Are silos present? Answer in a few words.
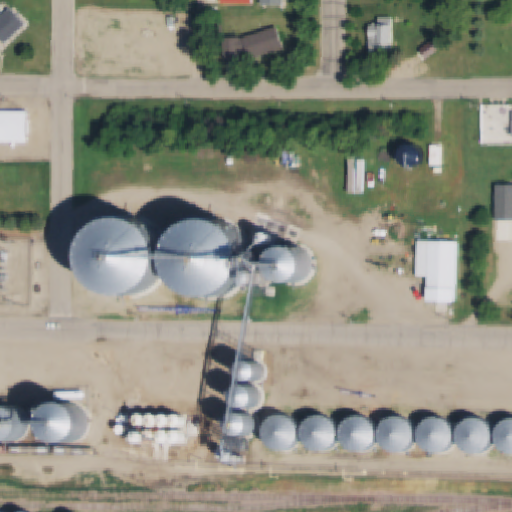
Yes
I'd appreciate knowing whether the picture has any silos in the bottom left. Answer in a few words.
Yes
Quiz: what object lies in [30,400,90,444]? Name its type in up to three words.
silo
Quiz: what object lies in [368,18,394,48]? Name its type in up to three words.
house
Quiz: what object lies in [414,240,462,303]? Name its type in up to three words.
building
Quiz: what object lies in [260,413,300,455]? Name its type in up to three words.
silo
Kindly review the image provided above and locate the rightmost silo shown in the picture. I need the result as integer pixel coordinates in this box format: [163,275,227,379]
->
[492,414,512,454]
